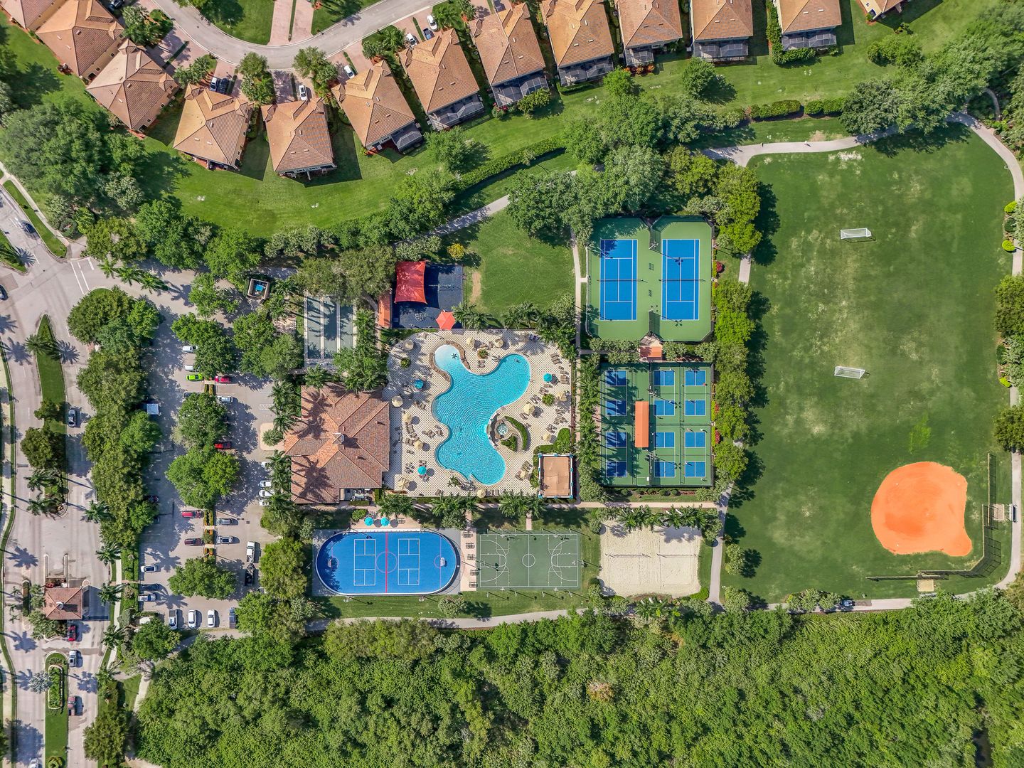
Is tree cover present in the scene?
Yes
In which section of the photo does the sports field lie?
right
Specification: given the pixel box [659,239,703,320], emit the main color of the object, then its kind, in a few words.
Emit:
blue tennis court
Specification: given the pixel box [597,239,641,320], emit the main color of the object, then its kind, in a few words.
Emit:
blue tennis court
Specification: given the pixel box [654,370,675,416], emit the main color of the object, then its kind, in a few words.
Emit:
blue sports court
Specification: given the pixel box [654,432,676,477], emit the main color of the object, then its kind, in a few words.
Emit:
blue sports court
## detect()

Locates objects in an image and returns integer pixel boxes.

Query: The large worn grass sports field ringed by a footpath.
[724,122,1015,602]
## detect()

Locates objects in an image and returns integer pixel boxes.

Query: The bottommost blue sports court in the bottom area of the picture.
[312,529,460,596]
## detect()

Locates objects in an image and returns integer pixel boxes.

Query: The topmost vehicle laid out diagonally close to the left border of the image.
[18,219,32,235]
